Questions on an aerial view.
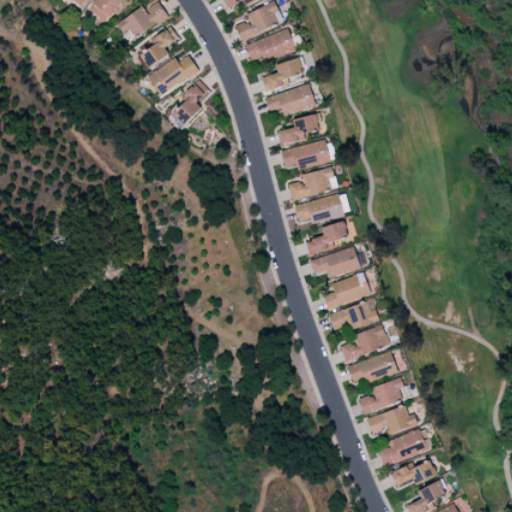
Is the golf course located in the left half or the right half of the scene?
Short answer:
right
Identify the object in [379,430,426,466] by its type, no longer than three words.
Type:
house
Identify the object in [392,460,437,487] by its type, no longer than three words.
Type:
house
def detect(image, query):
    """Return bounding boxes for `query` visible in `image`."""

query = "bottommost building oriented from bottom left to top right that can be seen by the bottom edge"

[406,478,448,512]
